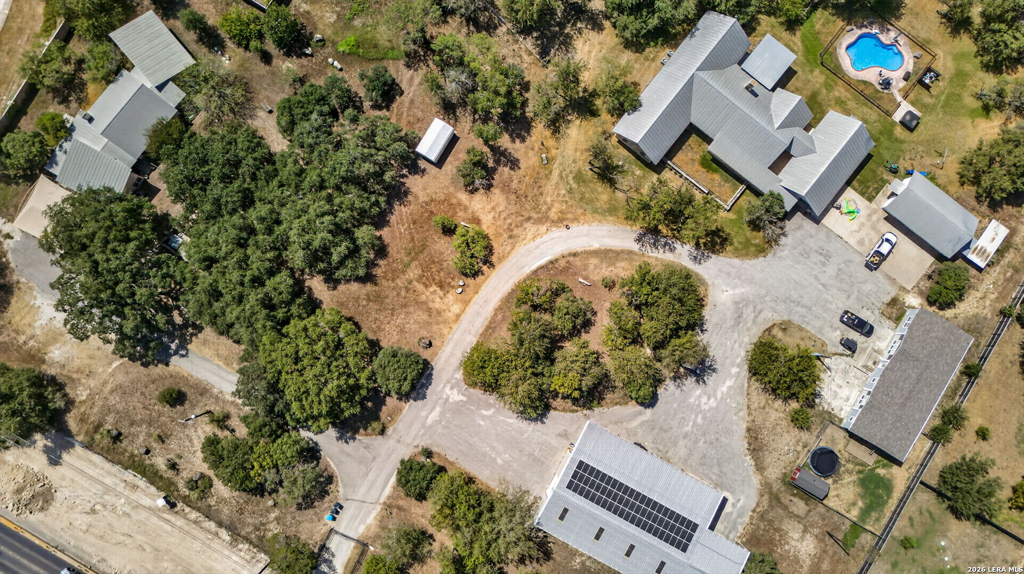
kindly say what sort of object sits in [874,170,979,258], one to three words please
building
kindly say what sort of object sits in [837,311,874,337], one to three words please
truck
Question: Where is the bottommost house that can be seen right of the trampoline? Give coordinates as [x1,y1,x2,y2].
[841,307,974,462]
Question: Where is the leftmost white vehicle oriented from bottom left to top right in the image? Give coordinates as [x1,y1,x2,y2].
[863,230,896,269]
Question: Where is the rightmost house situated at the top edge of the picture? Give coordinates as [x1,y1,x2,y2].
[613,10,876,216]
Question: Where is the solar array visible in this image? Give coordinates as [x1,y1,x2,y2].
[566,460,699,554]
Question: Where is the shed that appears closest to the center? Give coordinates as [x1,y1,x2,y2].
[416,118,454,164]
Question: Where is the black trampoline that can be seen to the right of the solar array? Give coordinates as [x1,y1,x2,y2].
[807,445,844,479]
